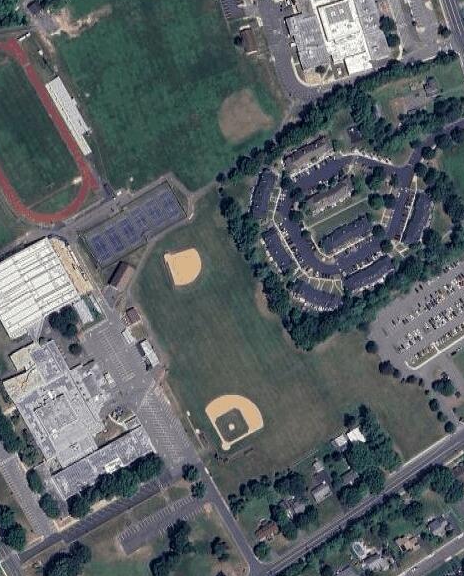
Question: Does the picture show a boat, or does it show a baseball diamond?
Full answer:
There is a baseball diamond in the scene.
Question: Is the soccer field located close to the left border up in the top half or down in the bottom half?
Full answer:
The soccer field located close to the left border sits in the top half of the picture.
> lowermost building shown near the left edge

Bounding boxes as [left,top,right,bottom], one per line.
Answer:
[4,341,155,499]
